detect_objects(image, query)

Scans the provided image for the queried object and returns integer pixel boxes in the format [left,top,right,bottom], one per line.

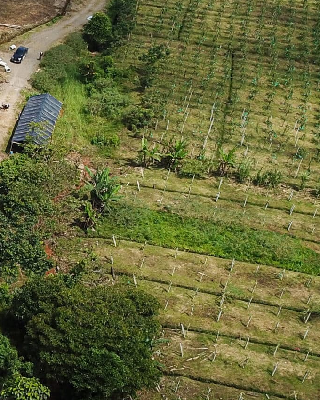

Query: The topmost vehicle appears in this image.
[12,45,28,60]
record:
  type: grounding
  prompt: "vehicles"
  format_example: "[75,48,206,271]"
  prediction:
[12,45,28,60]
[0,105,9,111]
